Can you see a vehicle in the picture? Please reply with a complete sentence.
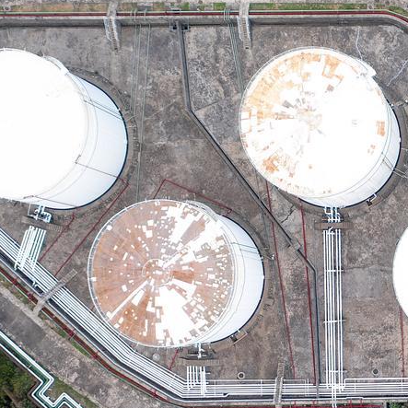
No, the picture doesn't show any vehicle.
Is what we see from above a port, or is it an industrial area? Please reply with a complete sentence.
The picture captures an industrial area.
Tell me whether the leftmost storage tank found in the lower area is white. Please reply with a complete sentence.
Yes, the leftmost storage tank found in the lower area appears white.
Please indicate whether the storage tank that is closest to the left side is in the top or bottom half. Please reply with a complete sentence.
You can find the storage tank that is closest to the left side in the top half.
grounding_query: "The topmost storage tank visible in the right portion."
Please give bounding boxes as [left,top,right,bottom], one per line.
[235,42,406,216]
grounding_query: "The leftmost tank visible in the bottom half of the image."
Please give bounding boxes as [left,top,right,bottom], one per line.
[82,194,271,353]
